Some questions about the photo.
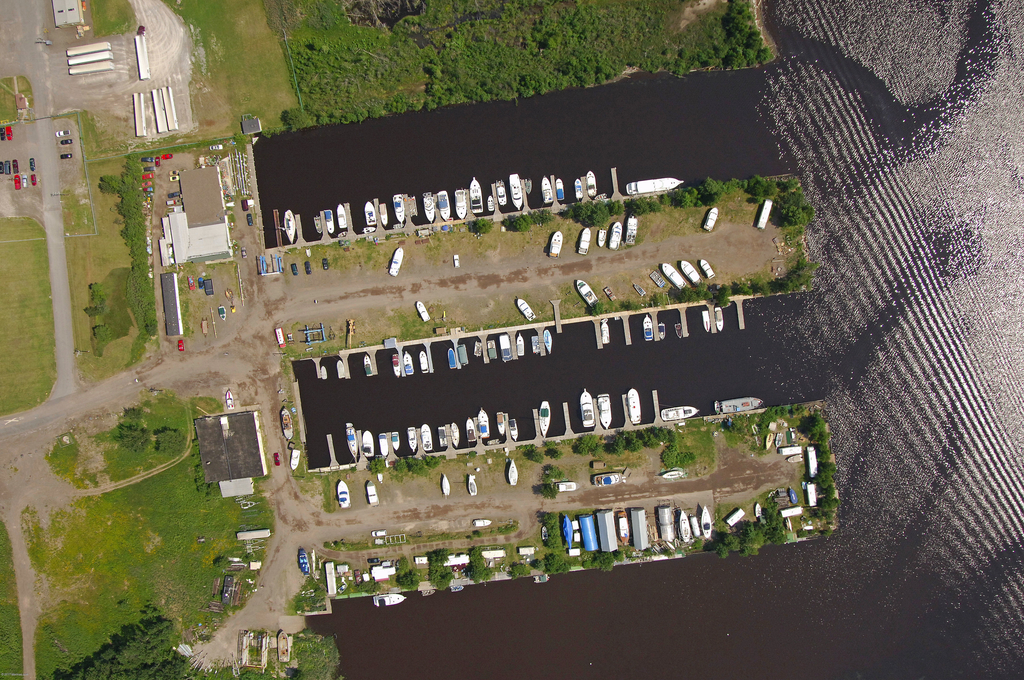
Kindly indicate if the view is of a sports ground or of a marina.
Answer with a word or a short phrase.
marina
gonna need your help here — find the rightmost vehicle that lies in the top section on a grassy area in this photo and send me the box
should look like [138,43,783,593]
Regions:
[756,200,772,230]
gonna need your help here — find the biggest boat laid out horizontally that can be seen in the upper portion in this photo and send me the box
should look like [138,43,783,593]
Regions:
[626,178,680,195]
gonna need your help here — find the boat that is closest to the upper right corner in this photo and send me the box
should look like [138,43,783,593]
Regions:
[704,208,719,232]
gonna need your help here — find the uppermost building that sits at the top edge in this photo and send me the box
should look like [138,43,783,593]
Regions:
[55,0,88,30]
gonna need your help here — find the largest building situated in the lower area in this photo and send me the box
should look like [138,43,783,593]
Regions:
[195,411,268,483]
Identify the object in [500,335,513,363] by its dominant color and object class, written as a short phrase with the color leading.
white boat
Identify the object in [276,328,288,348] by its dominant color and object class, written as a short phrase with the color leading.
white vehicle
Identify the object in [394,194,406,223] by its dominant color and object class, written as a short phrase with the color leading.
white boat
